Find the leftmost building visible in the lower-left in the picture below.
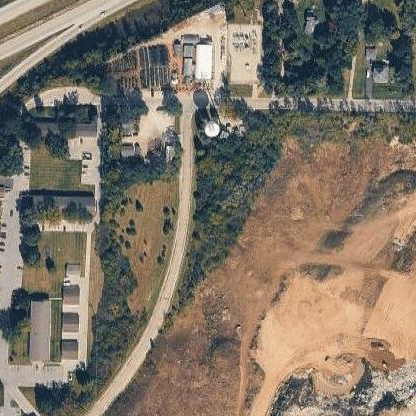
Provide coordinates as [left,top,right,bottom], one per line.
[30,301,51,363]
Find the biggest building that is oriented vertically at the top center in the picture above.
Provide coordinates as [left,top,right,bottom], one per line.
[195,42,213,81]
